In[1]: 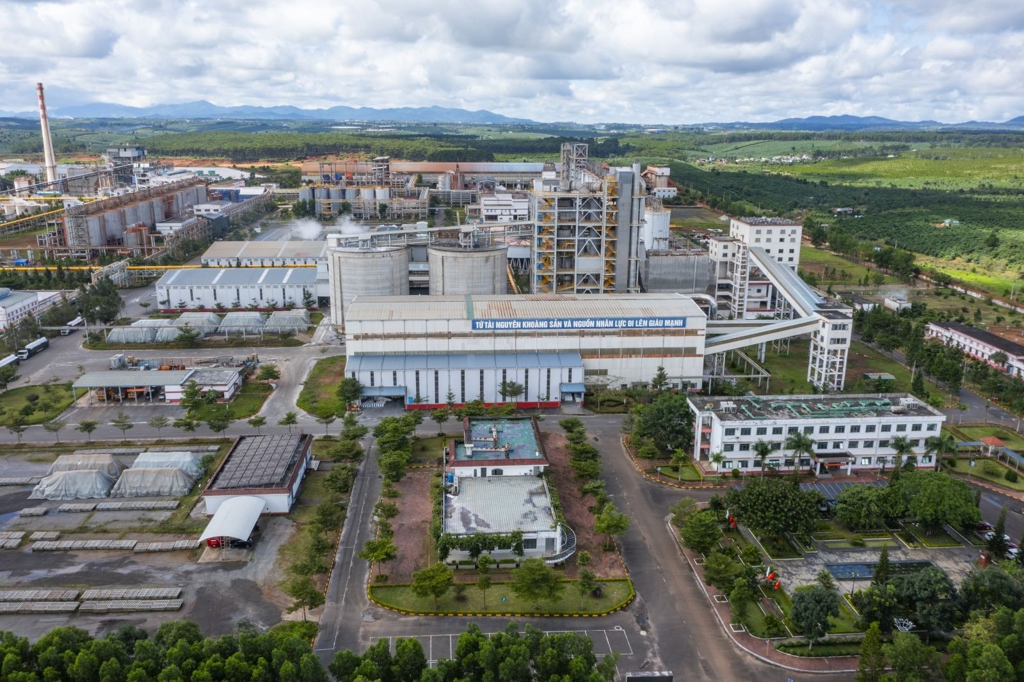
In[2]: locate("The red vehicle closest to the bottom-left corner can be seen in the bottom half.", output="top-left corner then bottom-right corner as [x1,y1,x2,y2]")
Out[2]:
[205,536,223,550]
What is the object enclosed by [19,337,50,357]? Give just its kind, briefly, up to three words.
vehicle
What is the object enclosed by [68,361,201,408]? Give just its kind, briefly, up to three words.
shed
